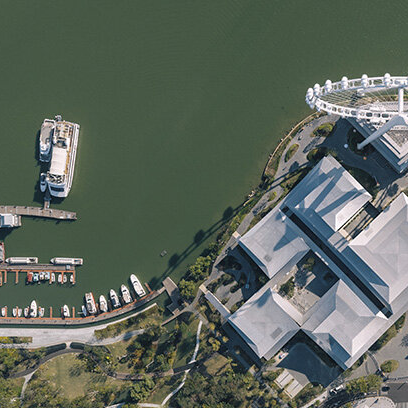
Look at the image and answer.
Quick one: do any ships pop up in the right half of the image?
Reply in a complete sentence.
No, no ship appears in the right half of the image.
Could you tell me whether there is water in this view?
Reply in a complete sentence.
Yes, some water is visible.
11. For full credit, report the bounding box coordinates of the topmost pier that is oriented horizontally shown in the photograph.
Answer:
[0,205,77,220]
